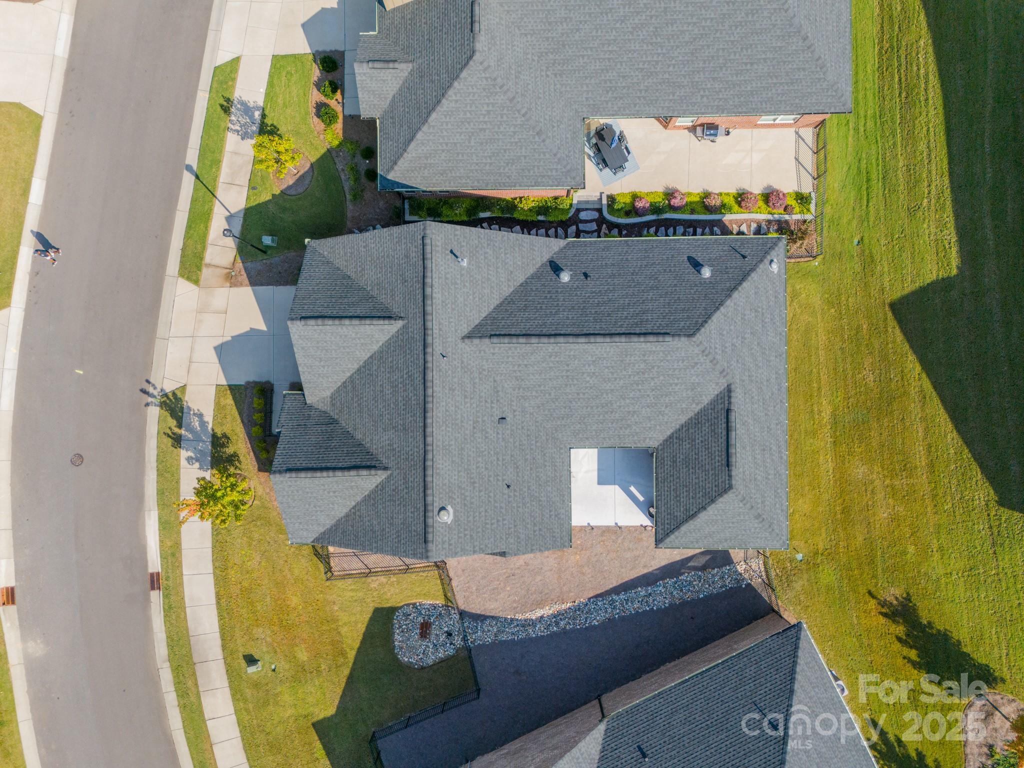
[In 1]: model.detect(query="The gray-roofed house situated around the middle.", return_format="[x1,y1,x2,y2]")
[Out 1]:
[271,222,791,560]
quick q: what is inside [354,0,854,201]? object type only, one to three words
house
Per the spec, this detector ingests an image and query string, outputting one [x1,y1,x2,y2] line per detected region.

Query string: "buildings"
[354,0,854,201]
[271,222,791,560]
[447,611,876,768]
